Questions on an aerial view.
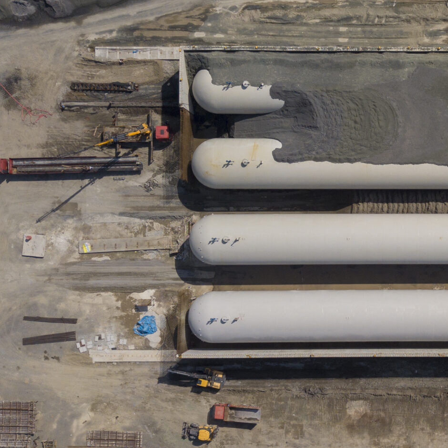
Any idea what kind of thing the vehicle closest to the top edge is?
truck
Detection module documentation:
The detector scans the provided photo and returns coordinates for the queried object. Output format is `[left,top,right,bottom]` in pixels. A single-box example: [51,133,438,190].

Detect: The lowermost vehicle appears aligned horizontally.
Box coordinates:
[179,423,220,441]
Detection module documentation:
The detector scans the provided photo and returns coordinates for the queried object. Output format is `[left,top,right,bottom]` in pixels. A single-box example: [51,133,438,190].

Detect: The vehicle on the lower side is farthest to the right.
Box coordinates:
[212,402,262,425]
